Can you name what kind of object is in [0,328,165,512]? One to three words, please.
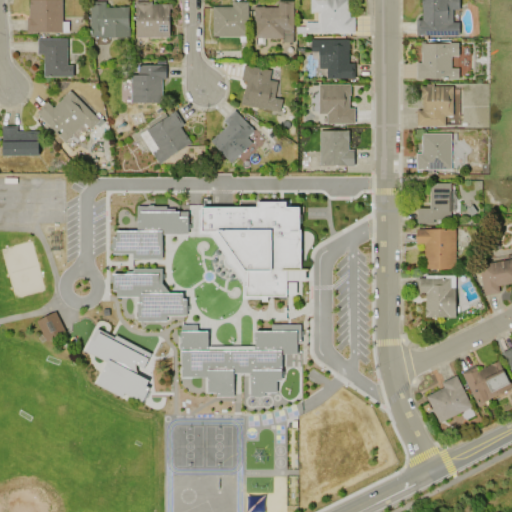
sports field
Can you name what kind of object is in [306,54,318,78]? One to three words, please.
swimming pool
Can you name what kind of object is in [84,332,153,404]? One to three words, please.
building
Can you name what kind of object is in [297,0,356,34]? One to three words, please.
house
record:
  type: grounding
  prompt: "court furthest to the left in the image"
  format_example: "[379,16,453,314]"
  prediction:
[2,240,46,298]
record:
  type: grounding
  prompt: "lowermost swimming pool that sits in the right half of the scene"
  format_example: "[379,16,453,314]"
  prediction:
[461,280,479,302]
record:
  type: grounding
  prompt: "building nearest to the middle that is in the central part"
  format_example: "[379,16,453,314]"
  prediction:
[203,201,304,302]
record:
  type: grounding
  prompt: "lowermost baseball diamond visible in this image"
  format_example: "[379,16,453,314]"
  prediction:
[0,462,75,512]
